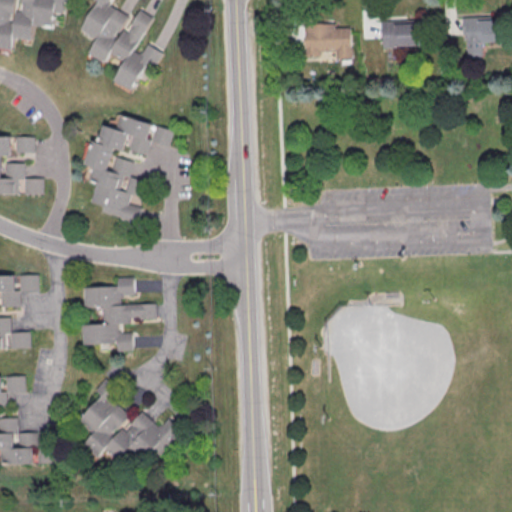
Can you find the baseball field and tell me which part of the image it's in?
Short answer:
bottom right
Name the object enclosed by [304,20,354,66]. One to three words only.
house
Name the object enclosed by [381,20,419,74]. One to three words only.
house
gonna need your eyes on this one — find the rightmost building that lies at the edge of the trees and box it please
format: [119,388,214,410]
[458,12,501,60]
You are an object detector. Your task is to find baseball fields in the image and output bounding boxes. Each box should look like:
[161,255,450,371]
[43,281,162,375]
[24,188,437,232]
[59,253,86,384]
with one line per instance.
[326,305,512,512]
